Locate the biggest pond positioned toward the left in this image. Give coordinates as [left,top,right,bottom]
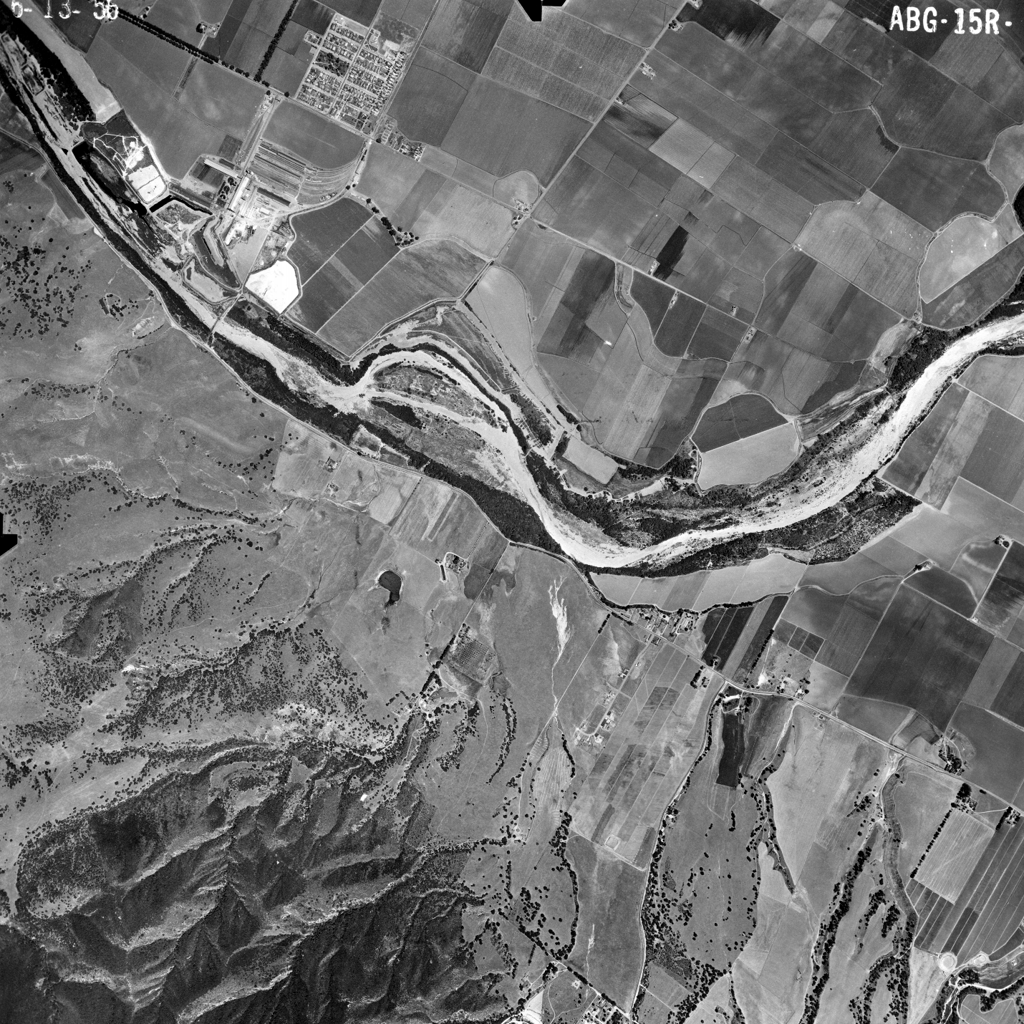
[246,261,298,313]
